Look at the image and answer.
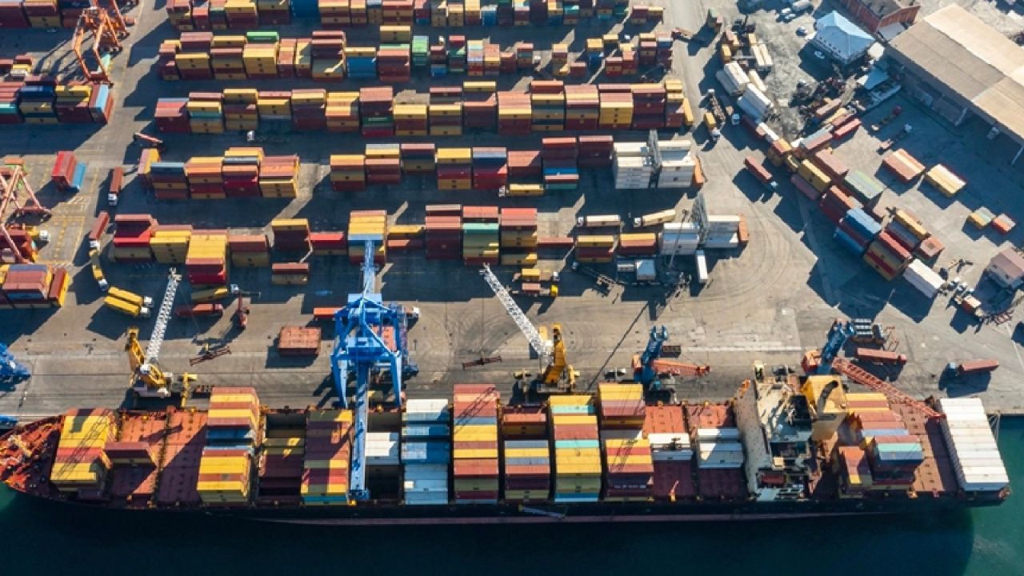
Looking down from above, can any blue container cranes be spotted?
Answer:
Yes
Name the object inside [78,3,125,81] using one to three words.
container crane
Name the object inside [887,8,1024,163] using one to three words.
warehouse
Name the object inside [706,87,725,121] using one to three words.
vehicle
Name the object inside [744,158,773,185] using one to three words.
shipping container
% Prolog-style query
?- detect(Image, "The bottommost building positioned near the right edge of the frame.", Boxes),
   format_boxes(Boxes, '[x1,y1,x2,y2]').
[986,252,1024,301]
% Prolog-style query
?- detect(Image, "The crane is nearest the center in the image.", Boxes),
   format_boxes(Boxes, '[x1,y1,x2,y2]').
[480,264,587,400]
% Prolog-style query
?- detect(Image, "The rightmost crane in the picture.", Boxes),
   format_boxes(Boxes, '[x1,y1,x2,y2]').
[788,320,946,422]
